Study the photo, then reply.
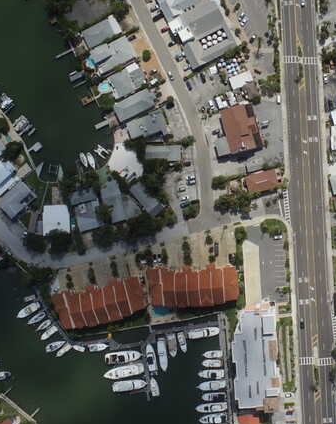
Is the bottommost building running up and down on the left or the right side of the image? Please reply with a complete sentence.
You can find the bottommost building running up and down on the right side of the picture.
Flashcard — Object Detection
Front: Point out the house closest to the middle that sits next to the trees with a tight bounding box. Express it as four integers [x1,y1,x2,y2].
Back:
[130,182,163,216]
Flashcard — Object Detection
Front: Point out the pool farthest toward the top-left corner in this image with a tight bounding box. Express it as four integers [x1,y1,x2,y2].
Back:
[81,54,99,72]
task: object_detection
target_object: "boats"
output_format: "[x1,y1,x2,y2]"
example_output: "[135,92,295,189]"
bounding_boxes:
[16,301,41,317]
[98,145,109,157]
[201,359,222,367]
[156,336,167,372]
[166,334,177,357]
[13,118,27,130]
[198,414,225,424]
[36,319,52,330]
[146,343,159,372]
[27,311,46,323]
[73,344,86,351]
[87,343,108,351]
[79,152,88,167]
[104,351,141,364]
[196,380,226,390]
[1,99,13,109]
[44,340,65,353]
[55,343,73,356]
[40,325,58,339]
[198,370,222,378]
[201,392,224,401]
[195,402,227,412]
[177,332,187,353]
[110,380,147,392]
[203,351,222,358]
[186,327,219,340]
[150,377,160,396]
[103,363,145,379]
[87,152,96,170]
